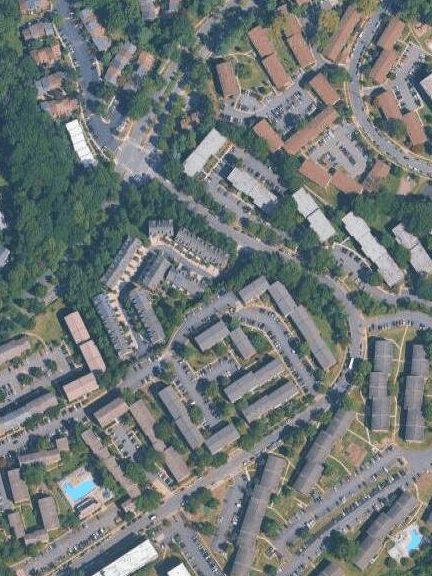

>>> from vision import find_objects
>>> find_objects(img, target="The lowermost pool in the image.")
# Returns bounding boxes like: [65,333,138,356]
[388,525,424,565]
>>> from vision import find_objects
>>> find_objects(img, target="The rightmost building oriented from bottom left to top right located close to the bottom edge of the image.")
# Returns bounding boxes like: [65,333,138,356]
[349,492,412,568]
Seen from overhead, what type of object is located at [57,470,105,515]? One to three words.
swimming pool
